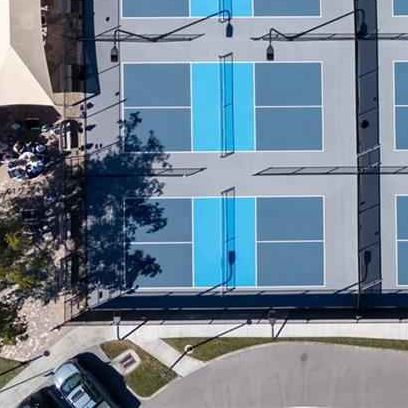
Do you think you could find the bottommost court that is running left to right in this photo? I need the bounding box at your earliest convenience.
[125,196,325,288]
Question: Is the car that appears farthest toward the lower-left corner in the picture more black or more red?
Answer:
black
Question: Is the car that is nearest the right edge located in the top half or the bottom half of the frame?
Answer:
bottom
